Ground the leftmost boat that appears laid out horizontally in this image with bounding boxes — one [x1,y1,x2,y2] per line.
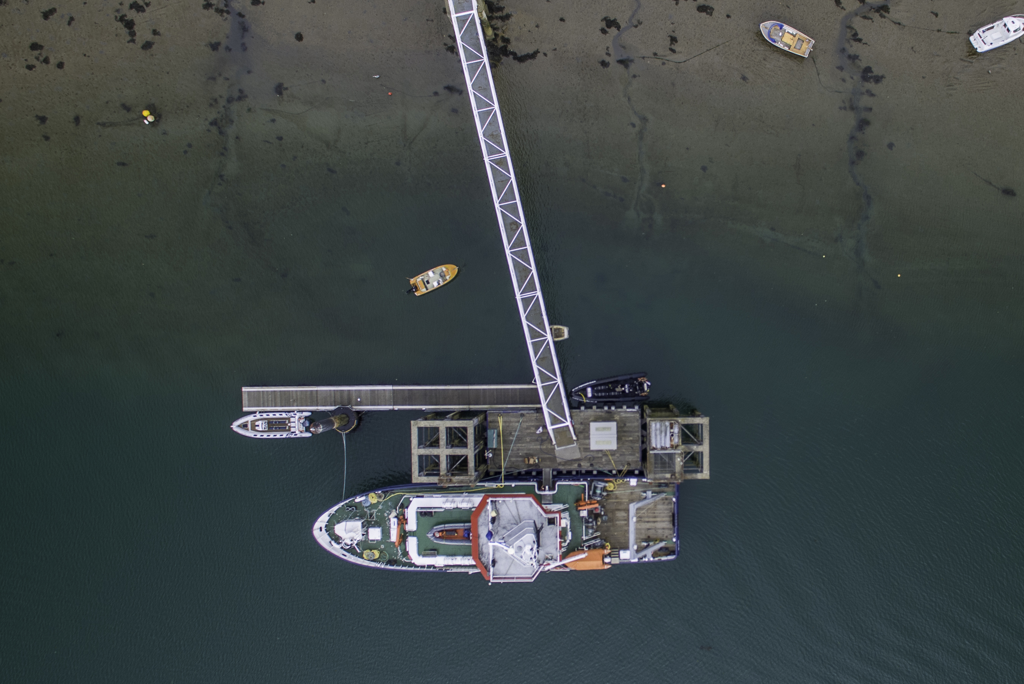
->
[230,410,311,439]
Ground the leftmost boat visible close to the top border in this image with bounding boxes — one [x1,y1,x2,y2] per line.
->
[760,21,814,59]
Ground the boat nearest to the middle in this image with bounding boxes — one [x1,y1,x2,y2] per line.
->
[549,325,569,341]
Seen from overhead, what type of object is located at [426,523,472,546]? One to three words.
boat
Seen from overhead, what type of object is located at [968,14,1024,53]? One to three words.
boat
